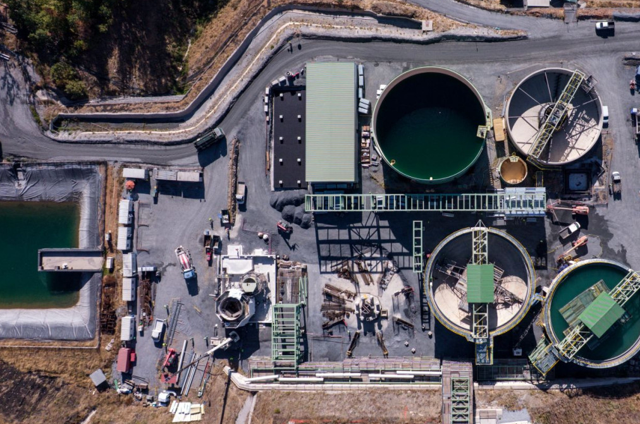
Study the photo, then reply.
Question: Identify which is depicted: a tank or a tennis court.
tank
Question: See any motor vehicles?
Yes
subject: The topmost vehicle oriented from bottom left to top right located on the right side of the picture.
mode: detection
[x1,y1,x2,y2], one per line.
[559,222,580,238]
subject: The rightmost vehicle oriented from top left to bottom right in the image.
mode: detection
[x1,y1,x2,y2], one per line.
[276,219,294,237]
